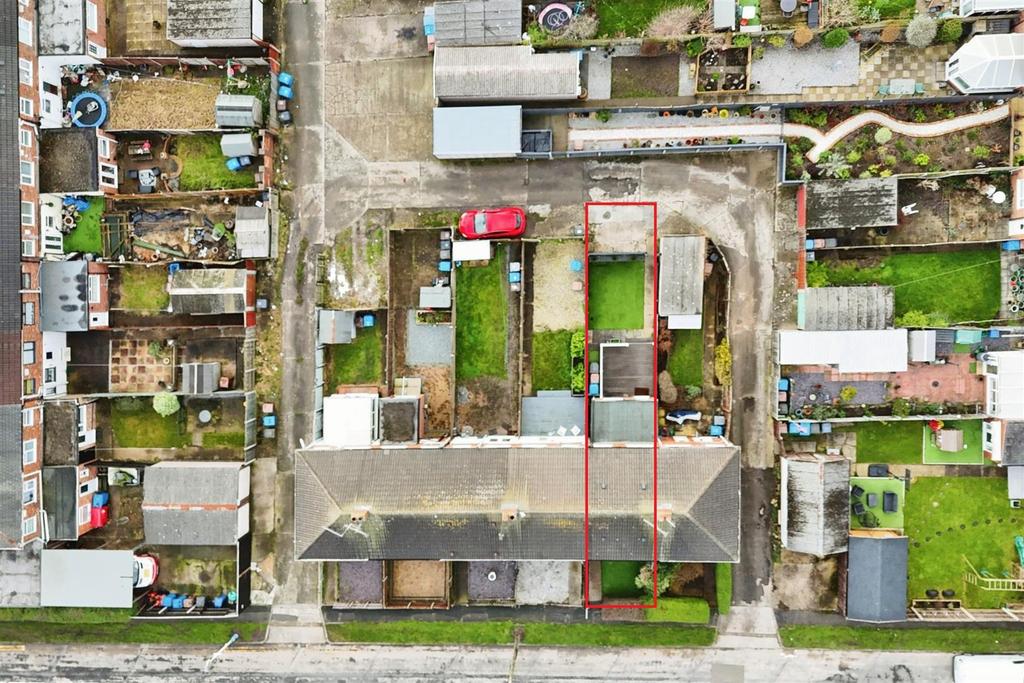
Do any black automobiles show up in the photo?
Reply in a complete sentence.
No, this view has no black automobile in it.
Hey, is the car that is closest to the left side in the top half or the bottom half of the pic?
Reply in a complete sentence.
The bottom half of the photo is where the car that is closest to the left side is.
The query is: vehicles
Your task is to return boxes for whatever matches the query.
[952,654,1024,683]
[460,206,527,240]
[134,554,162,583]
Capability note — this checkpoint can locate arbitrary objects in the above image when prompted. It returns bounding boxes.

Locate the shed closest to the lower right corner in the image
[838,531,908,622]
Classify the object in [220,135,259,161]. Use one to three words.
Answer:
shed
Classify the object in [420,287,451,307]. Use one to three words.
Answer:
shed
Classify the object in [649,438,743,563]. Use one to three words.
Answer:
house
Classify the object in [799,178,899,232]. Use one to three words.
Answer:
building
